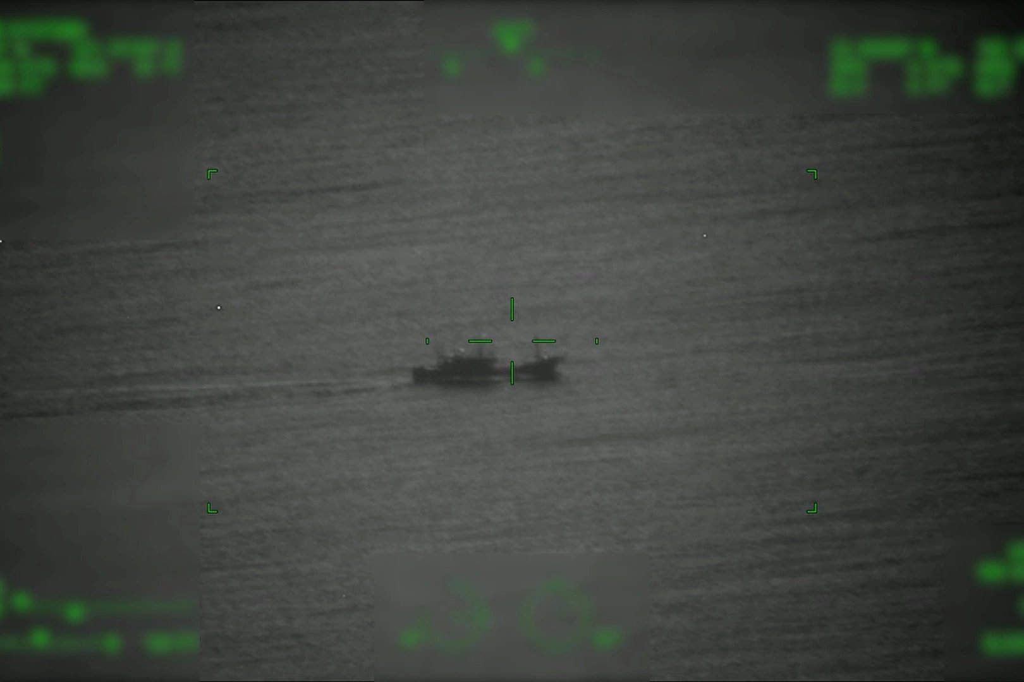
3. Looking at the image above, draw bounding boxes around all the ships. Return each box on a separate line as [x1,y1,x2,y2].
[411,334,562,382]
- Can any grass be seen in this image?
No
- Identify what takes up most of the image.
water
